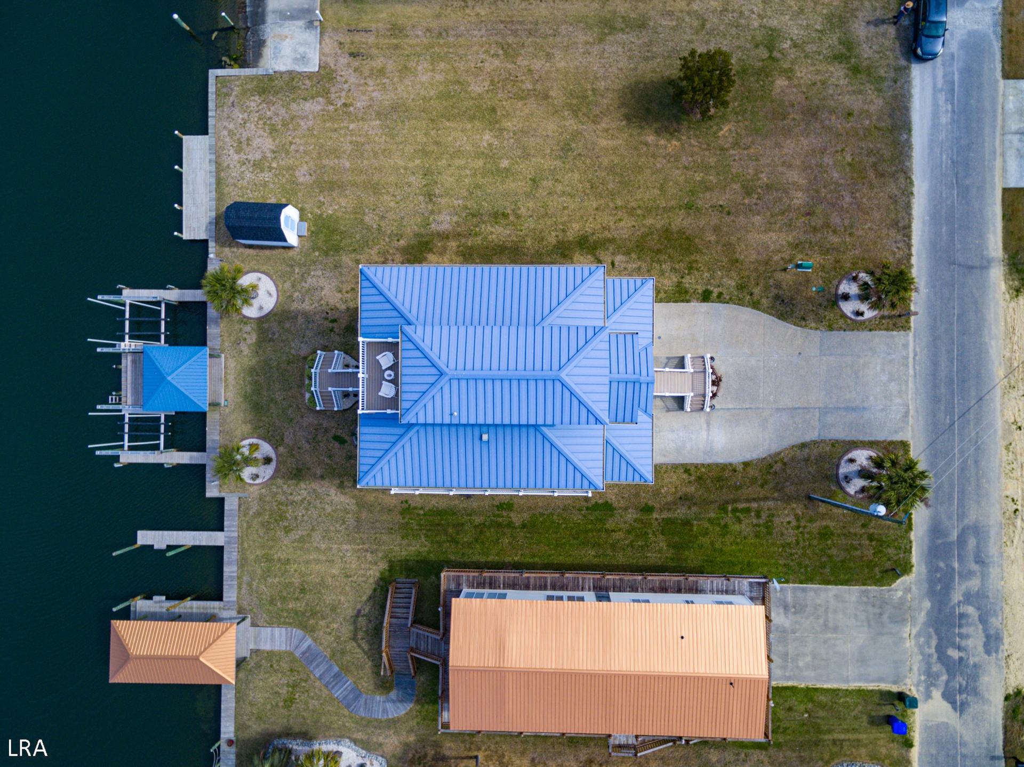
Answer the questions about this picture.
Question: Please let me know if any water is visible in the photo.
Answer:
Yes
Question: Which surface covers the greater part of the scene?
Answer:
grass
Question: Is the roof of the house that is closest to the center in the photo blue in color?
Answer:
Yes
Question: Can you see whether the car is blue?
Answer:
Yes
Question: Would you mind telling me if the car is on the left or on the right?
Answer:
right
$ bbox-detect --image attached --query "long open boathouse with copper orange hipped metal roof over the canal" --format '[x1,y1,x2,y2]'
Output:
[108,614,249,685]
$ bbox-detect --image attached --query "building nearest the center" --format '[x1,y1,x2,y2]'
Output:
[358,264,657,497]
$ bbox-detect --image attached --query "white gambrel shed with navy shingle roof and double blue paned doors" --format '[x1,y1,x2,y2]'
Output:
[226,204,299,251]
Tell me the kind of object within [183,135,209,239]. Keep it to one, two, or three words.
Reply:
pier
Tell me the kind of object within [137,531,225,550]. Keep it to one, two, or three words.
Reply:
pier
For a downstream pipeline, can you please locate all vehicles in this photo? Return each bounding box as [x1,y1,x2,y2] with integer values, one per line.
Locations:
[904,0,954,61]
